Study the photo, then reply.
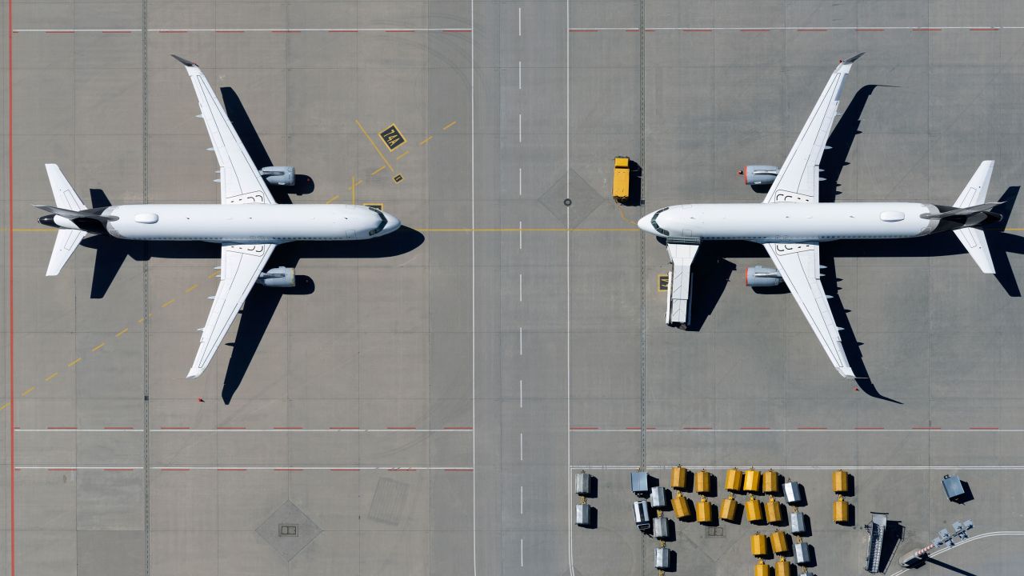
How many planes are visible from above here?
2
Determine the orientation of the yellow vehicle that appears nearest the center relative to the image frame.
vertically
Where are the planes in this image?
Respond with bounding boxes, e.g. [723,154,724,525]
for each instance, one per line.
[31,54,401,380]
[638,54,1008,380]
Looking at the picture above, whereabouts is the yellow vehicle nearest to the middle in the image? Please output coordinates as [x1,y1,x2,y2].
[613,153,633,201]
